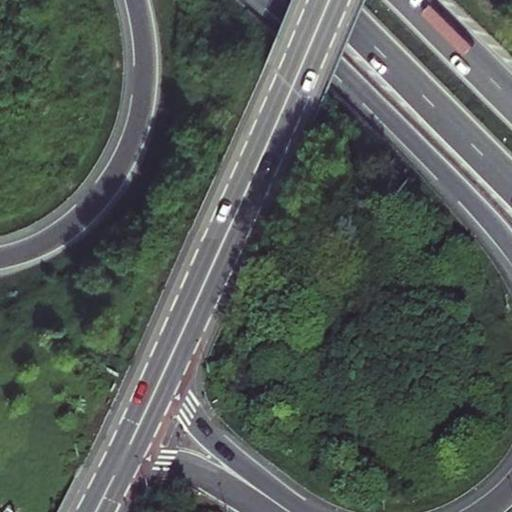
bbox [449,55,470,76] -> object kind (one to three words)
car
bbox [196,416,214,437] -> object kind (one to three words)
car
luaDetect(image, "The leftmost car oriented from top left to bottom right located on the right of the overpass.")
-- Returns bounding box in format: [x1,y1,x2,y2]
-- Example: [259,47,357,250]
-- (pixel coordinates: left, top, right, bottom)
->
[368,54,388,74]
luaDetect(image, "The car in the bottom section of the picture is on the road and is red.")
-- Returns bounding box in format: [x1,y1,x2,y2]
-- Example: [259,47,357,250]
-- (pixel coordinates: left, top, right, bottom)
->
[132,380,148,404]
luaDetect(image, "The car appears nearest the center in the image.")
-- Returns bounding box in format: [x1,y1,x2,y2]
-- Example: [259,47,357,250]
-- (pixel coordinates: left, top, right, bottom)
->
[216,200,232,223]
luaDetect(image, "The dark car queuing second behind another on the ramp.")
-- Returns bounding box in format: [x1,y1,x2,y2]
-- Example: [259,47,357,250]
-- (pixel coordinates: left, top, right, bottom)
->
[215,441,236,462]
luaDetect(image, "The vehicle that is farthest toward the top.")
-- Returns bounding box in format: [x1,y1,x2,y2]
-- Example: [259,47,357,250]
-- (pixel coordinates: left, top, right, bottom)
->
[410,0,473,54]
